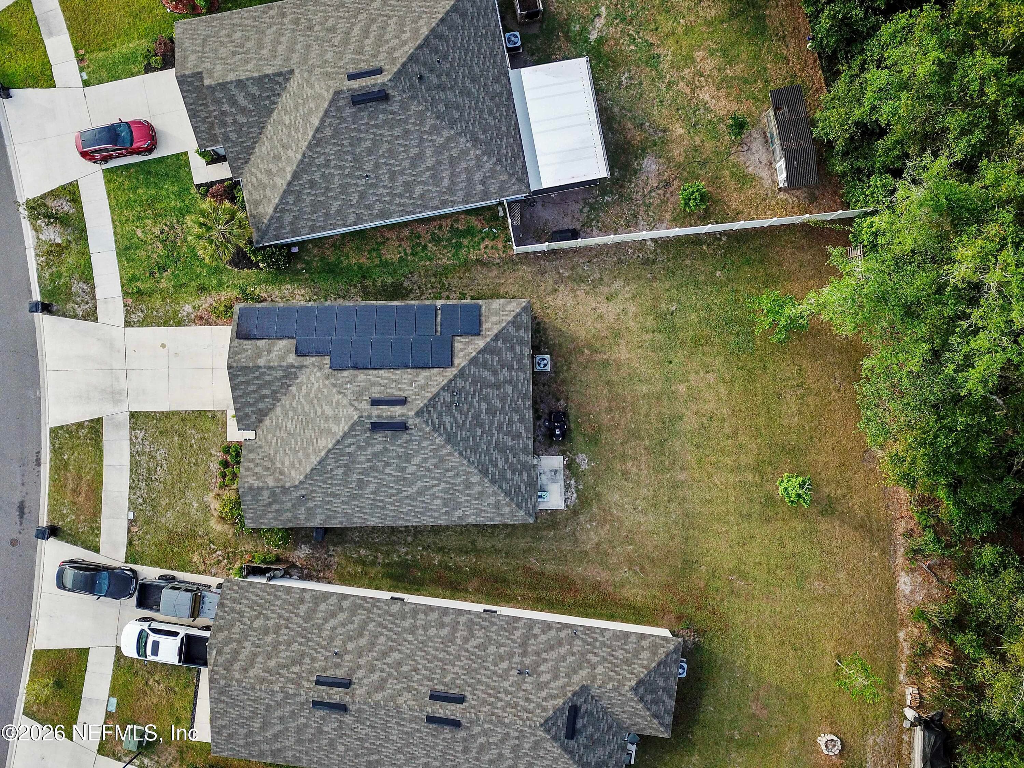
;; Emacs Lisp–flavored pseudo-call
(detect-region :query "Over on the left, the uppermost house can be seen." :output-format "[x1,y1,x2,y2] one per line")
[174,0,532,249]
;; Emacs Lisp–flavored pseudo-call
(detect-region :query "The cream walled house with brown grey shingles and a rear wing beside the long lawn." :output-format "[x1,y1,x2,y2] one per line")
[206,574,683,768]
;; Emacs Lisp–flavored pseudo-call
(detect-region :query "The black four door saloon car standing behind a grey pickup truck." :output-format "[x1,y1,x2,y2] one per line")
[53,559,139,605]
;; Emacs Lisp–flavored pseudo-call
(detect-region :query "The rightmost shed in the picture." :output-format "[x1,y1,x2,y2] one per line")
[763,84,820,197]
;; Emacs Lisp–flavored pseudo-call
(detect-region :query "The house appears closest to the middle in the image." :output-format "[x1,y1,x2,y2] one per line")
[226,299,536,528]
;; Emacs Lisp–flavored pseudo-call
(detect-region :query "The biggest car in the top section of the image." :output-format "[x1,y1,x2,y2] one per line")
[75,116,157,164]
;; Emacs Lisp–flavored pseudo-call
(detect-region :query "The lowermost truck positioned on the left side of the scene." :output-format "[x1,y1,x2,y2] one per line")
[119,616,211,671]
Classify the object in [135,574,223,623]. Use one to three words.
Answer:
truck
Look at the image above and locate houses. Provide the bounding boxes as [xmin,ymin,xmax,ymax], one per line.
[226,299,536,528]
[206,574,683,768]
[174,0,532,249]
